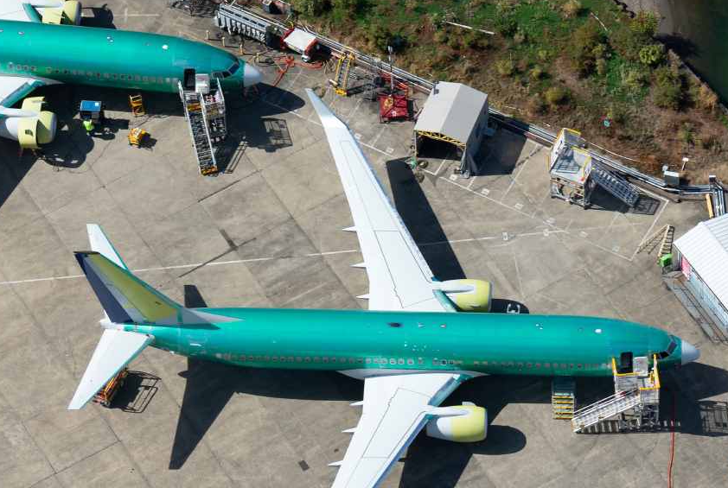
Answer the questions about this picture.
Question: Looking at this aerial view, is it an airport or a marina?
airport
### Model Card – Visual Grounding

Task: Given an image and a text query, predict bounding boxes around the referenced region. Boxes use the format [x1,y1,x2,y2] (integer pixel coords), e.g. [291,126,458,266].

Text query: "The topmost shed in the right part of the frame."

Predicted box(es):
[414,80,489,181]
